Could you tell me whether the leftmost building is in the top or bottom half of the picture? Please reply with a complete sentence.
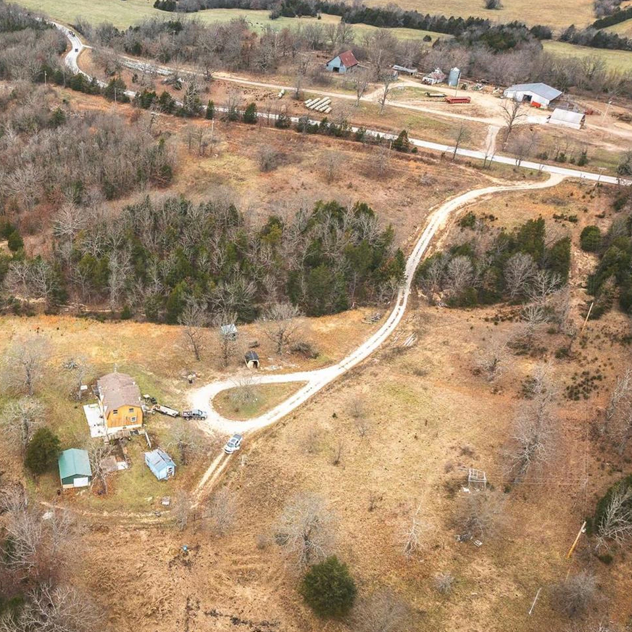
The leftmost building is in the bottom half of the image.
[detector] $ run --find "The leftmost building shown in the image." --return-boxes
[57,445,93,489]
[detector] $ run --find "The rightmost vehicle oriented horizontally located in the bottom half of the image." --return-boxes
[180,410,210,423]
